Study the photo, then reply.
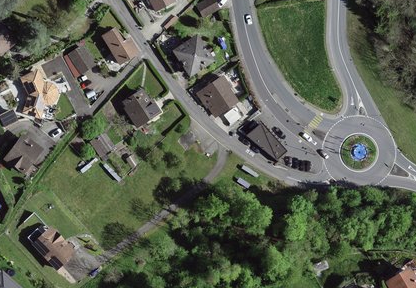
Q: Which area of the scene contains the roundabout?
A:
right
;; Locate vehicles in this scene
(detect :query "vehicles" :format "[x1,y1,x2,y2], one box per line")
[246,14,252,26]
[300,160,305,170]
[50,128,62,138]
[238,136,250,146]
[320,150,330,160]
[250,144,260,153]
[248,120,258,129]
[84,90,98,99]
[274,126,284,138]
[80,80,92,88]
[286,156,291,166]
[302,132,314,142]
[292,157,298,170]
[306,160,311,172]
[238,126,248,135]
